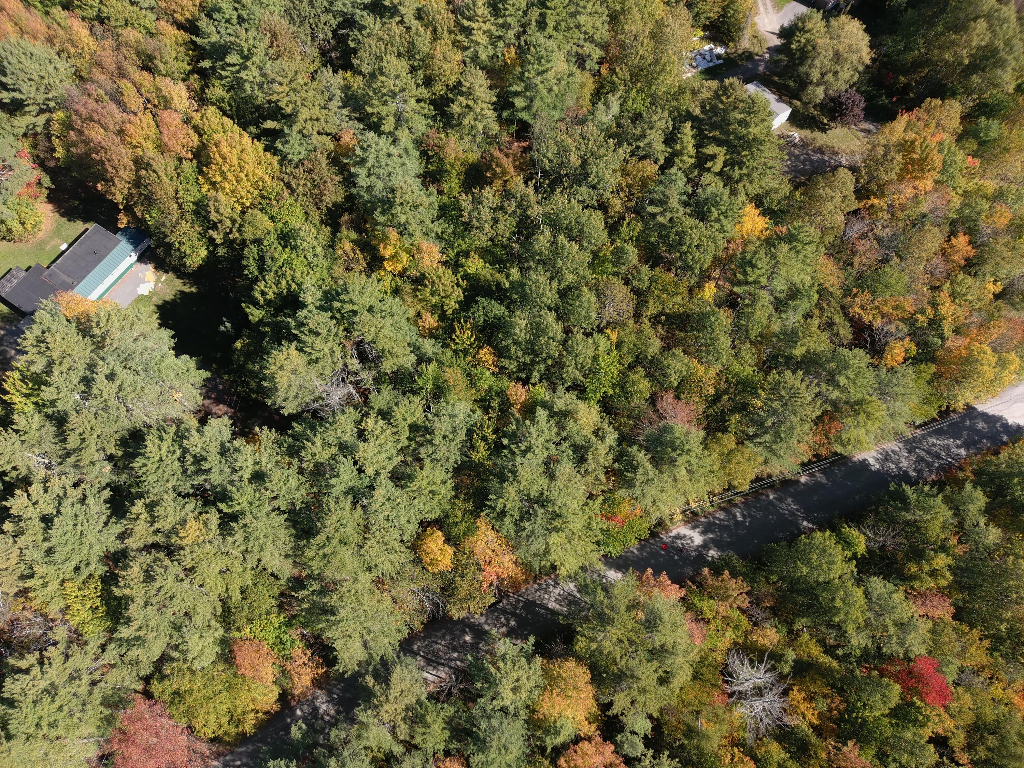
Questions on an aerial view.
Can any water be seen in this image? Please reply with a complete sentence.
No, water can't be seen anywhere here.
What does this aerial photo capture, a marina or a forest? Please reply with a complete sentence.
The area seen from above is a forest.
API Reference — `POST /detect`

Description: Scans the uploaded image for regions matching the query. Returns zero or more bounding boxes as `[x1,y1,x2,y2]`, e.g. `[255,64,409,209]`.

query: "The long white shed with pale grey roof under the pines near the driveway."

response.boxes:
[753,81,792,132]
